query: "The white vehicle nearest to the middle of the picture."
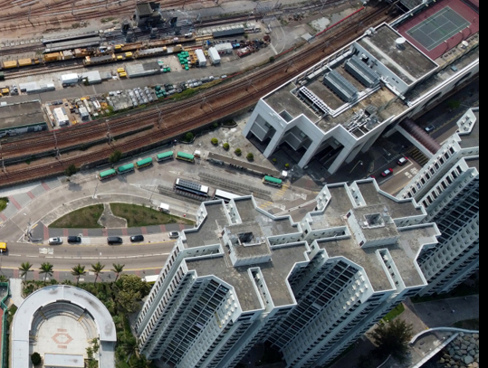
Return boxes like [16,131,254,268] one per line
[215,187,247,203]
